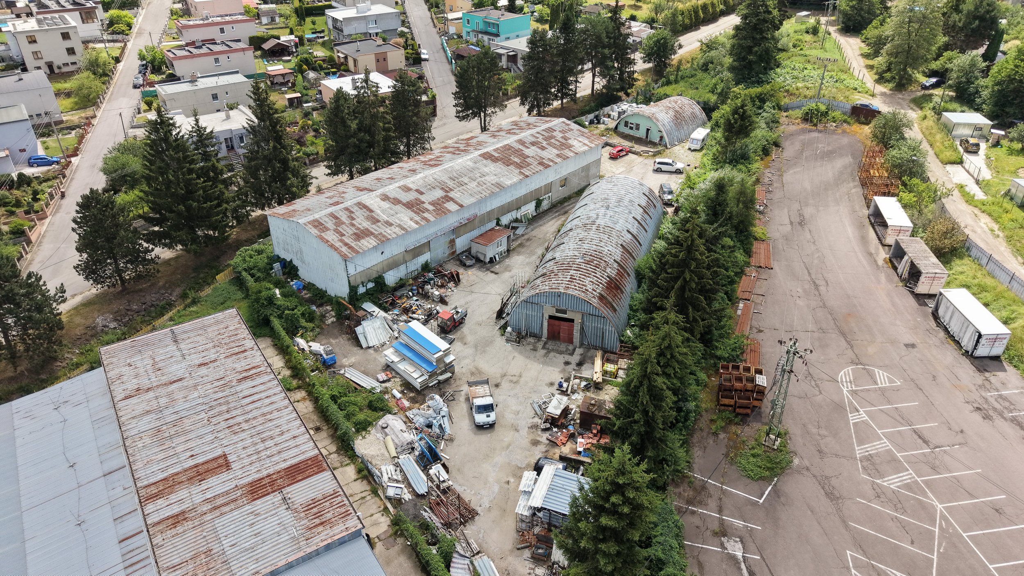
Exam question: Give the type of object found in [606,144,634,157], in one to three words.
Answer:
vehicle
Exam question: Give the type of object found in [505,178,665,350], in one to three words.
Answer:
hangar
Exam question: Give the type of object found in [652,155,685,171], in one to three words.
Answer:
car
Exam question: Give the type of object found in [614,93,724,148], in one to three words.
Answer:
hangar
